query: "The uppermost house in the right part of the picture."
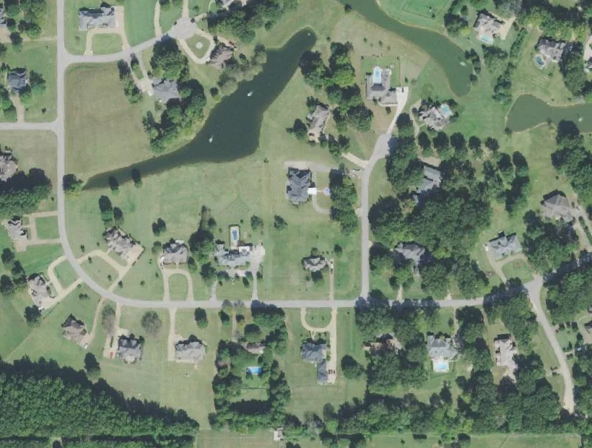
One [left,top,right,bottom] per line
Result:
[472,11,505,41]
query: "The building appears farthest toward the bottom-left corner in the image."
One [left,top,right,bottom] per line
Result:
[59,316,87,345]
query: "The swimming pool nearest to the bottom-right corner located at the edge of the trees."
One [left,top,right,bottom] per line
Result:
[433,359,449,372]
